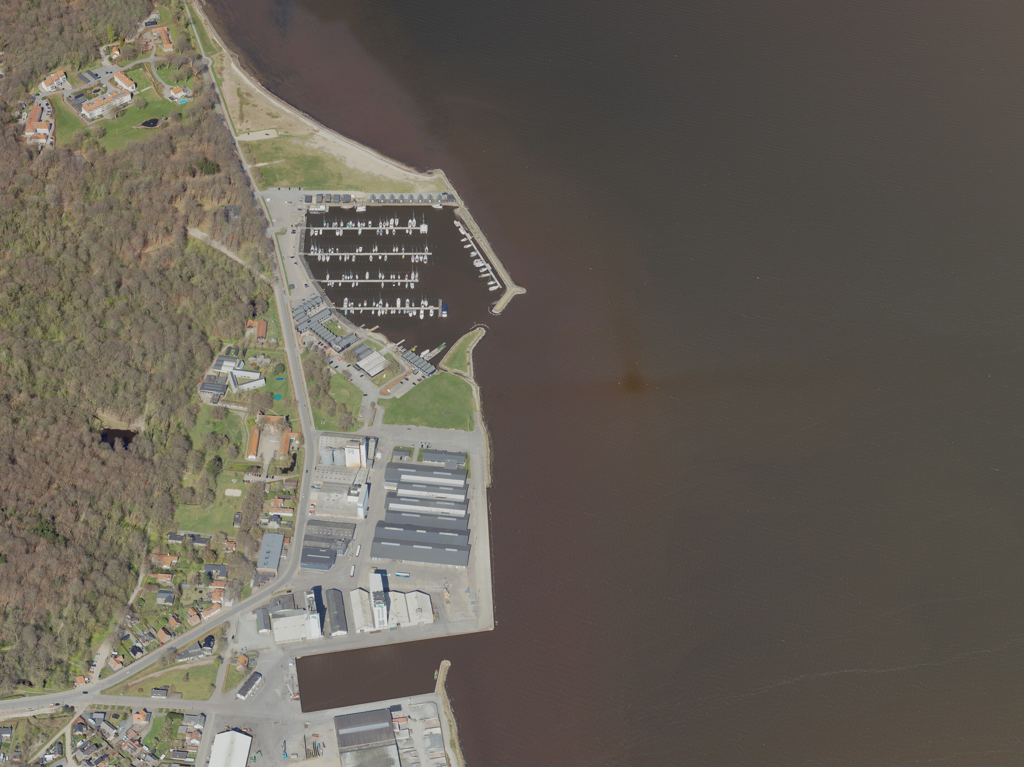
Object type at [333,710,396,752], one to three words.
building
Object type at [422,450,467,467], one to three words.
house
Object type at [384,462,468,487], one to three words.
building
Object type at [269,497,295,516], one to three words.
house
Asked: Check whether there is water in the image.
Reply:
Yes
